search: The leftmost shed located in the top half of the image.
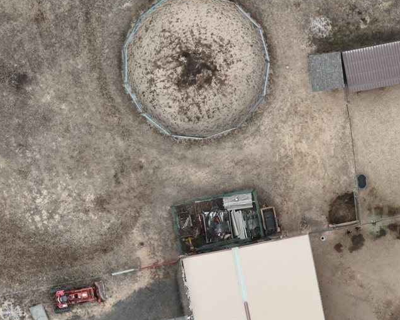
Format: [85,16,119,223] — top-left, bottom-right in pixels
[307,52,344,96]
